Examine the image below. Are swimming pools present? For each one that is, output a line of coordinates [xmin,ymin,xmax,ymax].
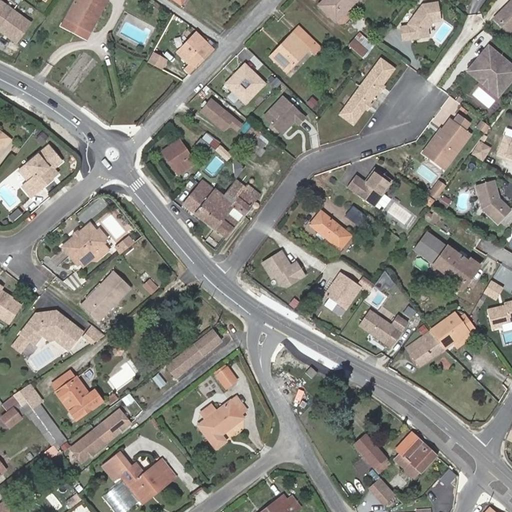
[455,187,474,214]
[364,288,387,310]
[82,366,94,384]
[26,340,68,373]
[0,170,24,212]
[467,84,502,113]
[202,154,226,178]
[386,199,418,231]
[430,19,454,47]
[116,12,155,48]
[416,160,442,188]
[98,208,136,245]
[500,330,512,346]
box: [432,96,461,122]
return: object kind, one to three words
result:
shed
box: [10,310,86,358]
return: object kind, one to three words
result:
house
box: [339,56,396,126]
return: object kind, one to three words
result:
house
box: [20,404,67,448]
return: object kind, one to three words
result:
barn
